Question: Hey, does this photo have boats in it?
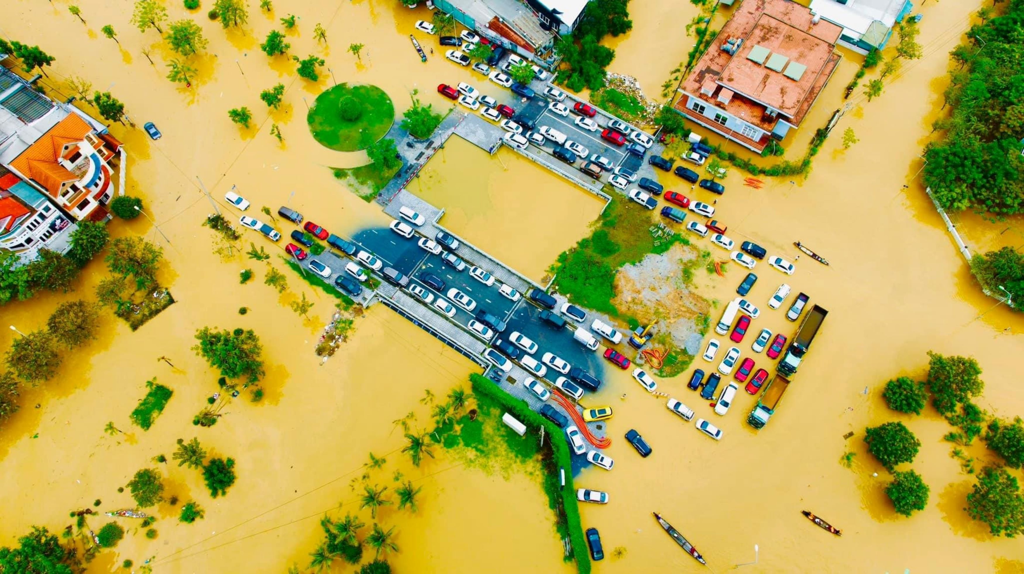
Yes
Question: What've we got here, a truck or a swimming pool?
truck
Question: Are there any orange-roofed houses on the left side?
Yes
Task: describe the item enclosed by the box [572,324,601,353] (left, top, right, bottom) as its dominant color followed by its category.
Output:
white truck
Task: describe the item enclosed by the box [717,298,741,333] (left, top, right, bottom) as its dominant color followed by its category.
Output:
white vehicle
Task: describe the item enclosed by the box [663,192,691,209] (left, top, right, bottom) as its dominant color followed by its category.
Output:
red car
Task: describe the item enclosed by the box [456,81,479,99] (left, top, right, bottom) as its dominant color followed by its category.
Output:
white car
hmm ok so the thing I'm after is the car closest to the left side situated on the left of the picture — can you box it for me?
[143,121,162,140]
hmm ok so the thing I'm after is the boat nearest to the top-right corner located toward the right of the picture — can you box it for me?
[793,241,830,266]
